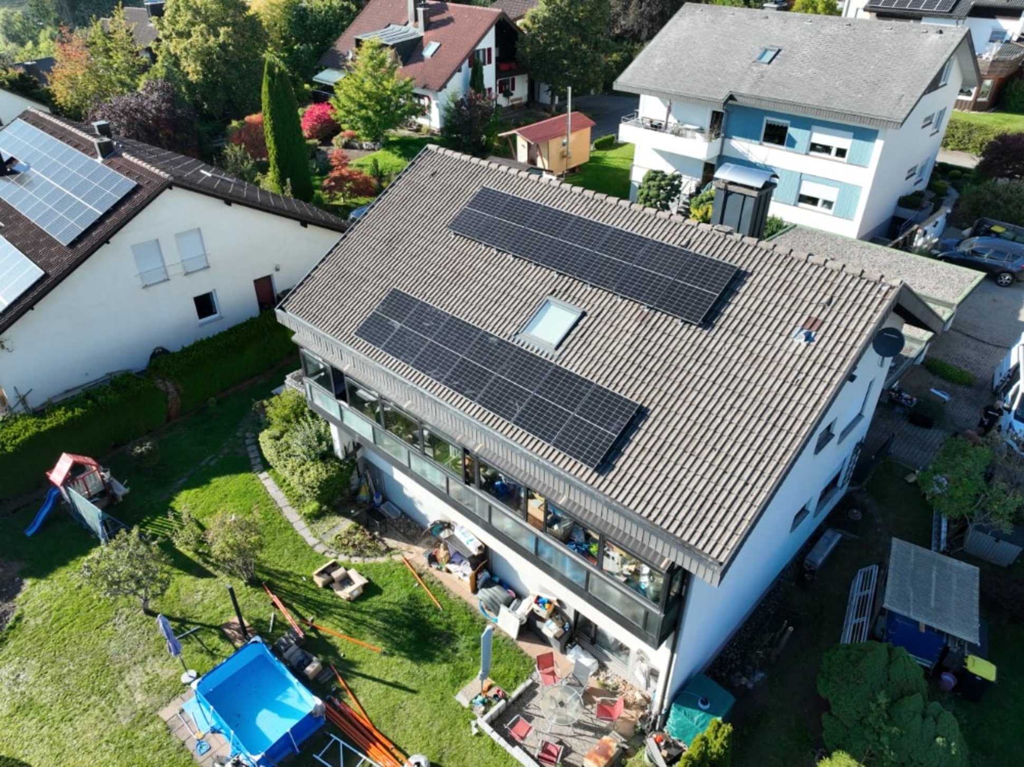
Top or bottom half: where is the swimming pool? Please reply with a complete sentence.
The swimming pool is in the bottom half of the image.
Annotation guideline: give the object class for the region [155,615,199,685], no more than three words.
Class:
umbrella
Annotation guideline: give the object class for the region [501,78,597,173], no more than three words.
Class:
shed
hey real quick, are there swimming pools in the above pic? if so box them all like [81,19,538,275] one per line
[186,633,333,767]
